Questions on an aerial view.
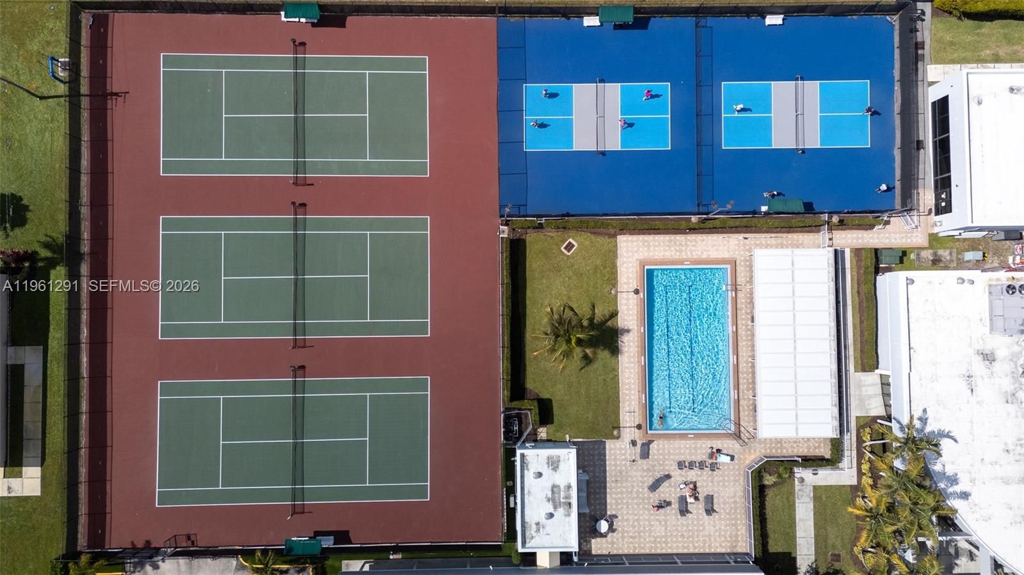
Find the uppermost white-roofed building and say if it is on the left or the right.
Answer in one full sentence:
The uppermost white-roofed building sits on the right side.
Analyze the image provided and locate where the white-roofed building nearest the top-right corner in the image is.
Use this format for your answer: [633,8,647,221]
[930,70,1024,231]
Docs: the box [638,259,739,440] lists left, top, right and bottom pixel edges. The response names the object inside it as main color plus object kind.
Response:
blue swimming pool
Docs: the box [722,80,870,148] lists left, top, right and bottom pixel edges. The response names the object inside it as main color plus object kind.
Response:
blue sports court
